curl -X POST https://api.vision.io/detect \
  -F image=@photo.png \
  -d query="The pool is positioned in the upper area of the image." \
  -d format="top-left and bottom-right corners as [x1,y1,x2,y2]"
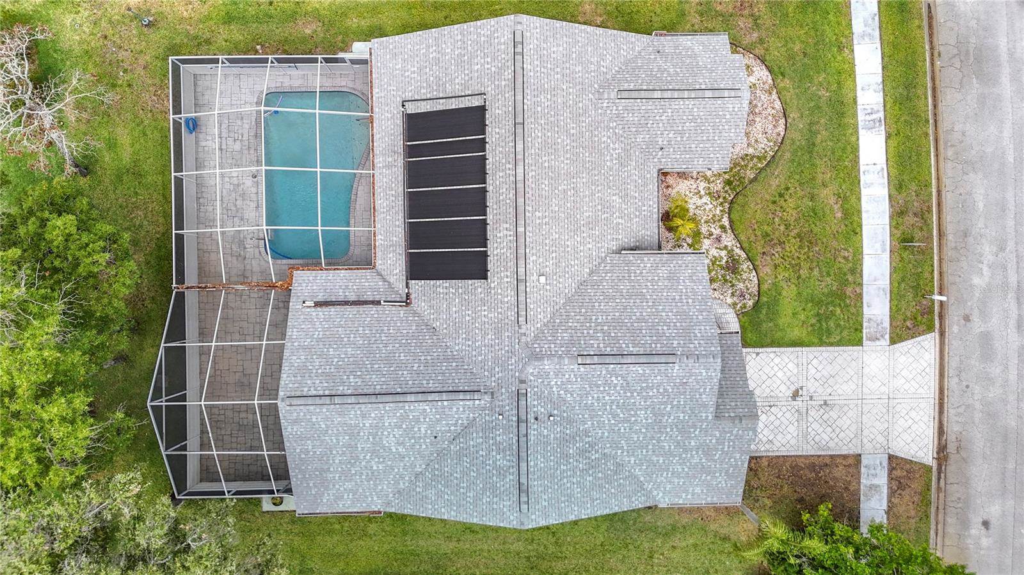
[265,91,369,259]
